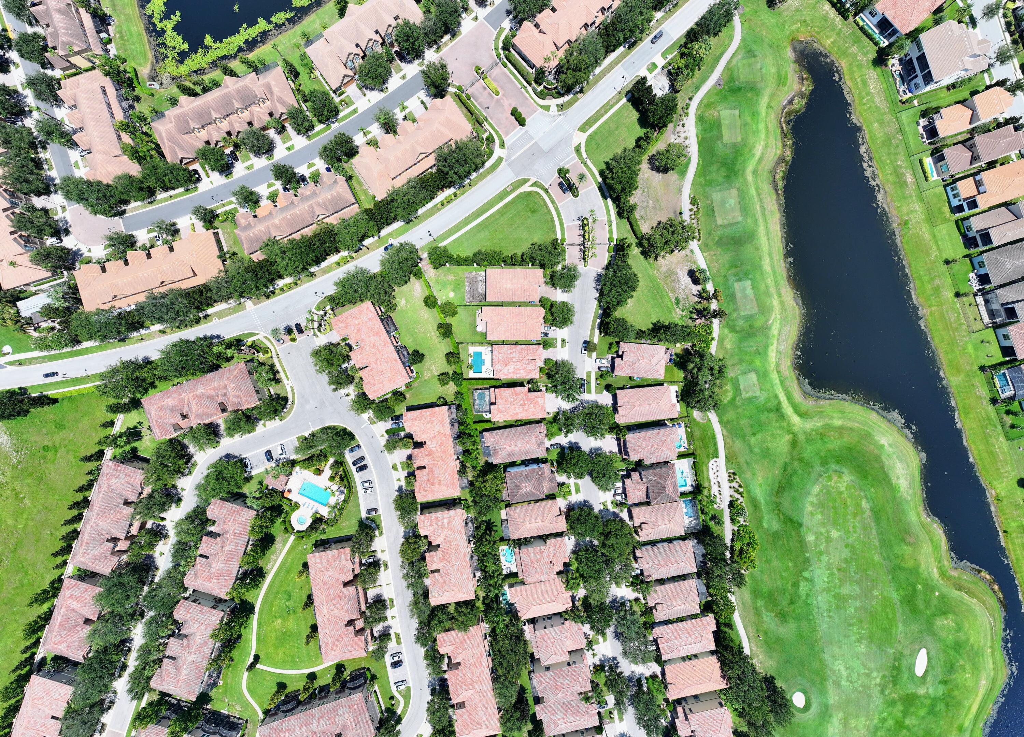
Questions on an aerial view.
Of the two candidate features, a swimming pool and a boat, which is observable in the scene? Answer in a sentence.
There is a swimming pool in the scene.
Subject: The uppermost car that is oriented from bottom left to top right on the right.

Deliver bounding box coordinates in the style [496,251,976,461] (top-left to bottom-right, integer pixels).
[650,30,664,44]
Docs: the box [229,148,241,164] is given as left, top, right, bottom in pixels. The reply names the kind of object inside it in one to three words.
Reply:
vehicle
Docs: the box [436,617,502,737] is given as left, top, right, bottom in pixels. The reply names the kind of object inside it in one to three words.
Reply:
building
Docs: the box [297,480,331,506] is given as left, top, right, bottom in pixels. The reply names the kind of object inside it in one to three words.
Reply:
swimming pool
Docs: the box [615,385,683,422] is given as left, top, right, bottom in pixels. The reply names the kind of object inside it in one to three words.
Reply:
house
